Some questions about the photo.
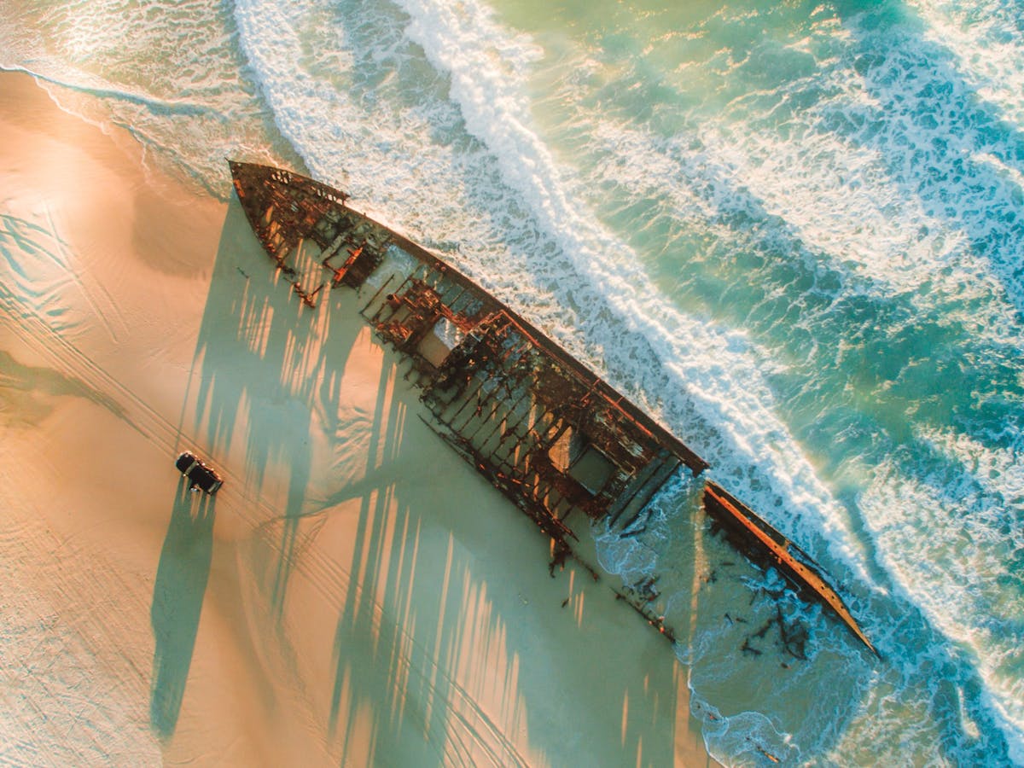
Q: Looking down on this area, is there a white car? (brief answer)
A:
No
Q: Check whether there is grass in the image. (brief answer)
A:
No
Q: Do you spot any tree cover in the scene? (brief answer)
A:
No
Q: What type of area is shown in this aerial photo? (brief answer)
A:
beach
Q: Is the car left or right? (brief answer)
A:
left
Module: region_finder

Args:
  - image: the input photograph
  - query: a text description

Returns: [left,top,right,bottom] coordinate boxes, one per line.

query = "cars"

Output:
[171,450,222,492]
